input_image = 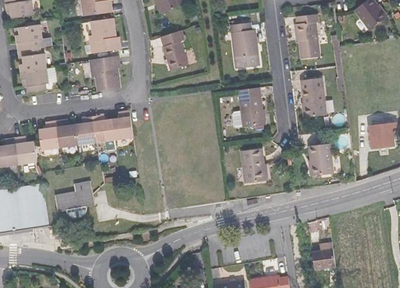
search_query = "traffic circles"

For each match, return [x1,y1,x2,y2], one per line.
[92,246,148,288]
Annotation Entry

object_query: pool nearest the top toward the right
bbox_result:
[332,112,348,128]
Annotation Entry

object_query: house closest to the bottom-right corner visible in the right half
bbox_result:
[312,242,336,271]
